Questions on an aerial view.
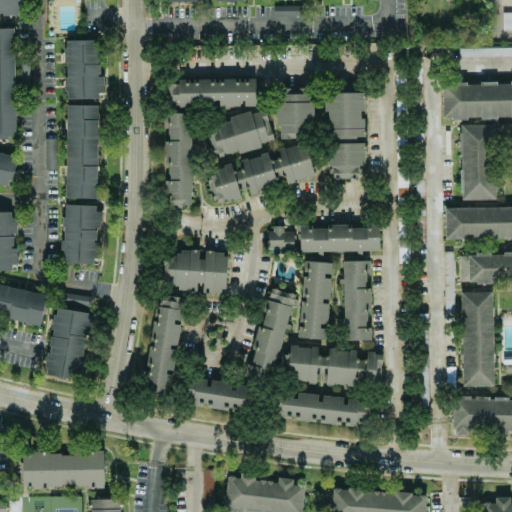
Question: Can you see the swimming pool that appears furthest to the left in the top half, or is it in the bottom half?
top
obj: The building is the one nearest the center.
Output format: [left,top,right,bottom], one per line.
[268,226,296,252]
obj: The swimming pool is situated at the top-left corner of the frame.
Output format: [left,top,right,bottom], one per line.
[48,0,82,37]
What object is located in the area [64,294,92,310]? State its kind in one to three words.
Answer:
building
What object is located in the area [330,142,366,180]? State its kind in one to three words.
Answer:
building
